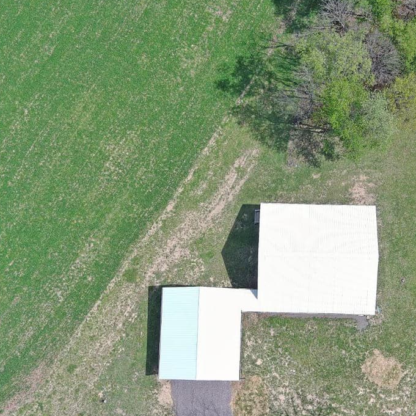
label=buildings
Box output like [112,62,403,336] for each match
[258,203,379,317]
[157,287,243,382]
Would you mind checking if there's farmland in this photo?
Yes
